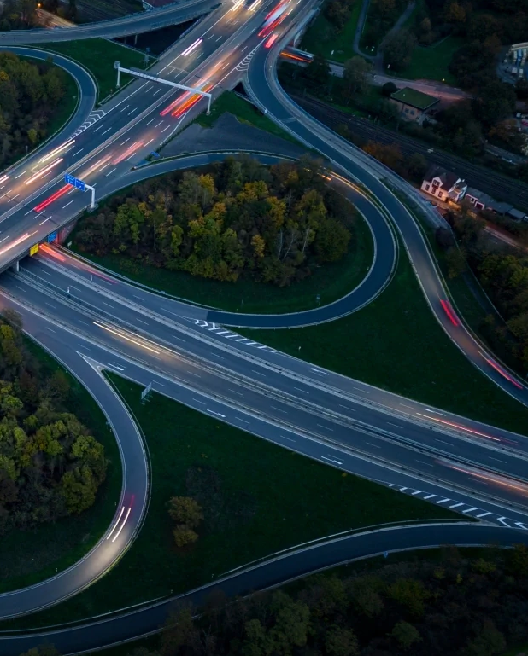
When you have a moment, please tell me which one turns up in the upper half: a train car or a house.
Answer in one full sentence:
Looking in the upper half, you will find a house.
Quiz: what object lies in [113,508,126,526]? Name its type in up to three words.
vehicle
